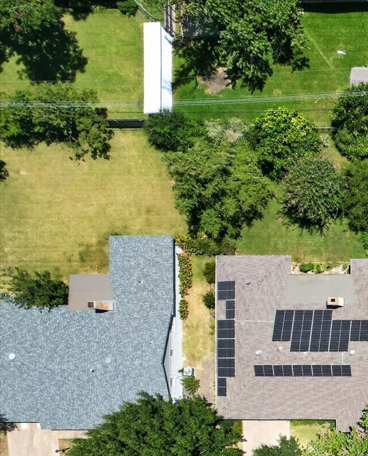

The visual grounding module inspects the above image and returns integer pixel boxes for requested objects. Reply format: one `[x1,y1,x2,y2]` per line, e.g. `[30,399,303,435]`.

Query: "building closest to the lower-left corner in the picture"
[0,236,175,431]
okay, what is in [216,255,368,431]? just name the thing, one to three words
house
